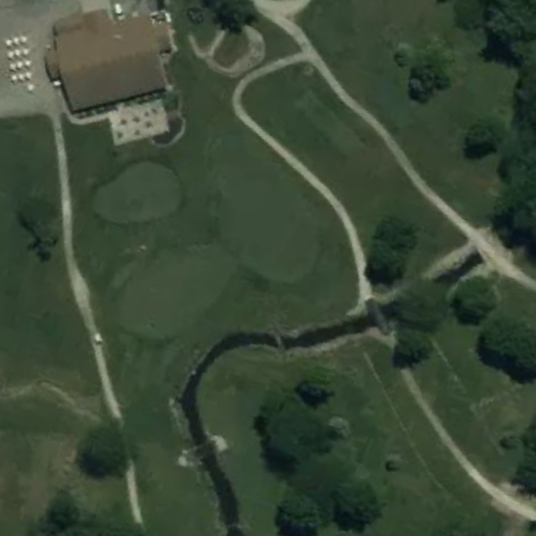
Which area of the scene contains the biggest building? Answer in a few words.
top left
